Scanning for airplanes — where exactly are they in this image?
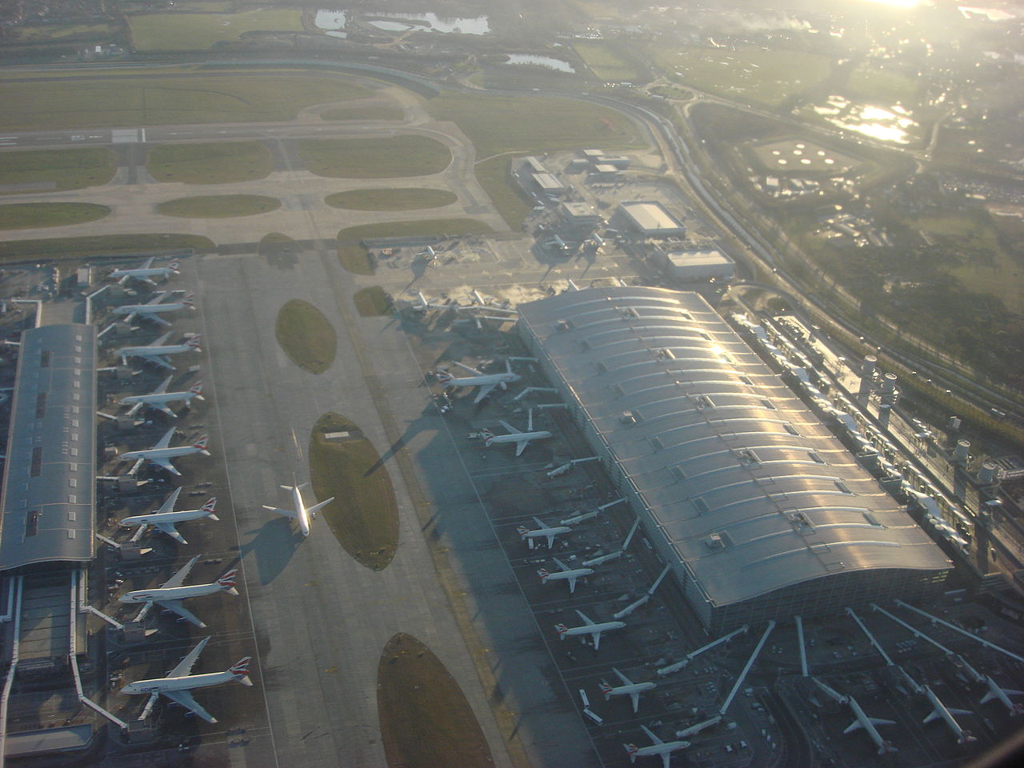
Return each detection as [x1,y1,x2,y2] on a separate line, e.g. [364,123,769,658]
[406,292,442,311]
[481,421,552,456]
[555,612,624,651]
[597,670,655,713]
[519,518,570,549]
[623,728,689,768]
[444,361,520,400]
[119,374,206,415]
[540,559,593,593]
[120,552,239,621]
[111,260,173,283]
[922,689,978,746]
[118,426,211,474]
[545,230,576,252]
[560,279,586,292]
[465,291,498,307]
[121,486,222,542]
[116,329,198,366]
[262,477,331,537]
[984,679,1024,726]
[114,290,191,323]
[121,634,251,718]
[843,699,899,757]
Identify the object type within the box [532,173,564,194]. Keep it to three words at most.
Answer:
building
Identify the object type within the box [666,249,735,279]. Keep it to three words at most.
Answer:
hangar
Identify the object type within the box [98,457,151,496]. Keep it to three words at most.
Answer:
jet bridge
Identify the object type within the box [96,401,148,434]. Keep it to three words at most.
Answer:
jet bridge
